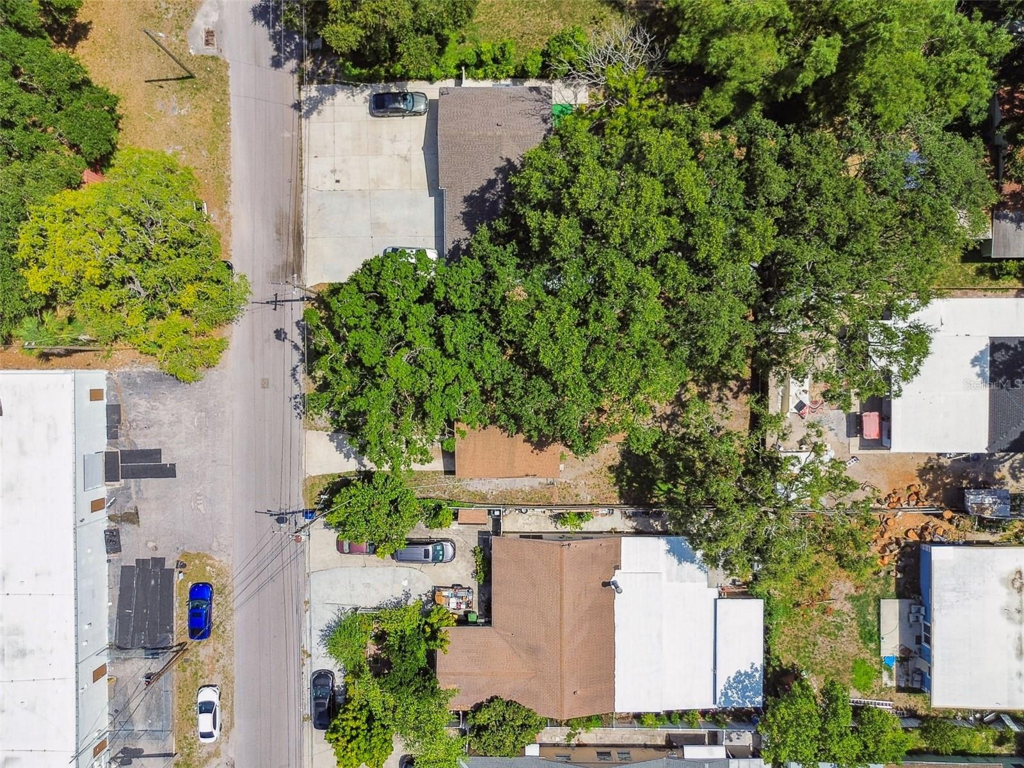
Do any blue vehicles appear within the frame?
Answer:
Yes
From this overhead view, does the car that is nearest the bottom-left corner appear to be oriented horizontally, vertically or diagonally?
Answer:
vertically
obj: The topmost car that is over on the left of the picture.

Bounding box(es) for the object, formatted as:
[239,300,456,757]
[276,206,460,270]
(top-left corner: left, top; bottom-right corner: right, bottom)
[369,88,428,119]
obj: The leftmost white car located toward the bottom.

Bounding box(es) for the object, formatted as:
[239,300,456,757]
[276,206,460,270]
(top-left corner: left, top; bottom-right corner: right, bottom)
[193,683,225,744]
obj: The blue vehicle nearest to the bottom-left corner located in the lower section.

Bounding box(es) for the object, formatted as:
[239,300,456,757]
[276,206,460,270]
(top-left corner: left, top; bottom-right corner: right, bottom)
[185,582,216,640]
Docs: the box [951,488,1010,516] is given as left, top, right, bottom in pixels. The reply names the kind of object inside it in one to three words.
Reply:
shed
